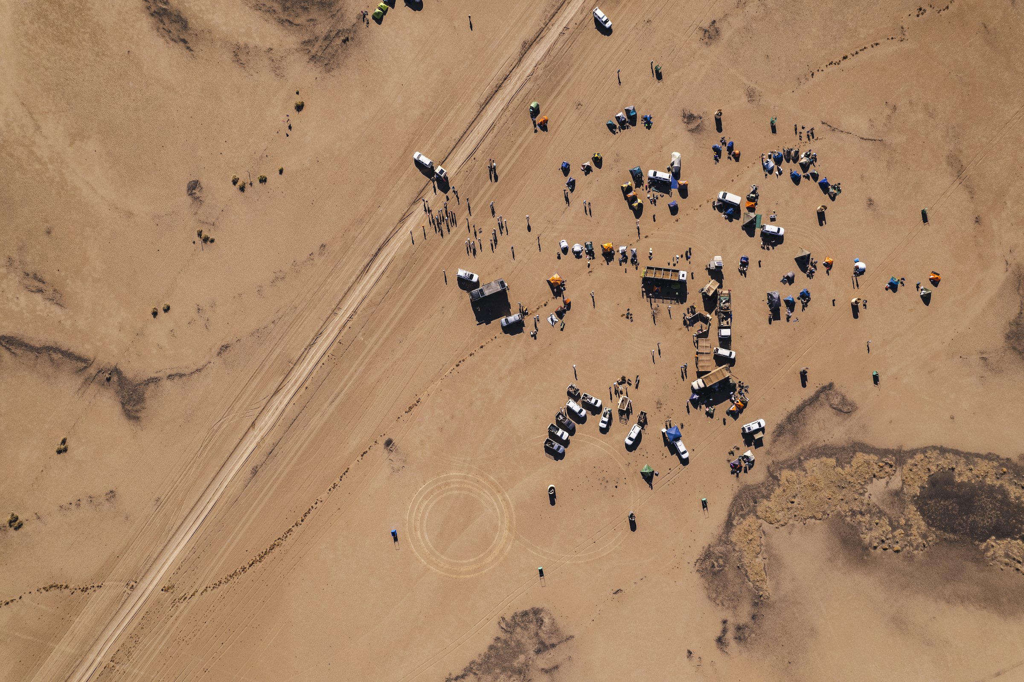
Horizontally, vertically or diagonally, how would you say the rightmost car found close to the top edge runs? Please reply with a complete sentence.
From this overhead view, the rightmost car found close to the top edge appears to run diagonally.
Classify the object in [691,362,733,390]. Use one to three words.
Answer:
truck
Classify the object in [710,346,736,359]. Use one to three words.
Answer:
vehicle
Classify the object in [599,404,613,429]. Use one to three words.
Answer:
vehicle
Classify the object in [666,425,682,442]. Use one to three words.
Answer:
gazebo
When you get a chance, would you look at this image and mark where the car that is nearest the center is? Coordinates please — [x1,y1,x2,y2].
[499,312,526,327]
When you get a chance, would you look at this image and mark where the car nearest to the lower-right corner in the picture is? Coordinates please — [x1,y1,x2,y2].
[740,418,765,433]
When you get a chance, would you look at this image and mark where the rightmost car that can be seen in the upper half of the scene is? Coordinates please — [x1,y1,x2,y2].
[758,223,784,236]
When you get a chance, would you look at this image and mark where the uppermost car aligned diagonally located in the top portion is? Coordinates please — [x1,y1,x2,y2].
[592,5,613,30]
